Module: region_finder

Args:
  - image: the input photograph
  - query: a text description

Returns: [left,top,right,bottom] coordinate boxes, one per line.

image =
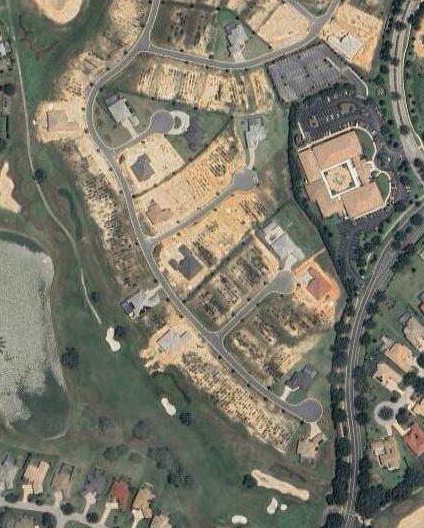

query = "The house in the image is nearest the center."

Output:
[170,248,204,278]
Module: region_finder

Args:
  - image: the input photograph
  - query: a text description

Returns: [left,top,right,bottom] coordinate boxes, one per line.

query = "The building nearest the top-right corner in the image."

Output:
[331,28,361,61]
